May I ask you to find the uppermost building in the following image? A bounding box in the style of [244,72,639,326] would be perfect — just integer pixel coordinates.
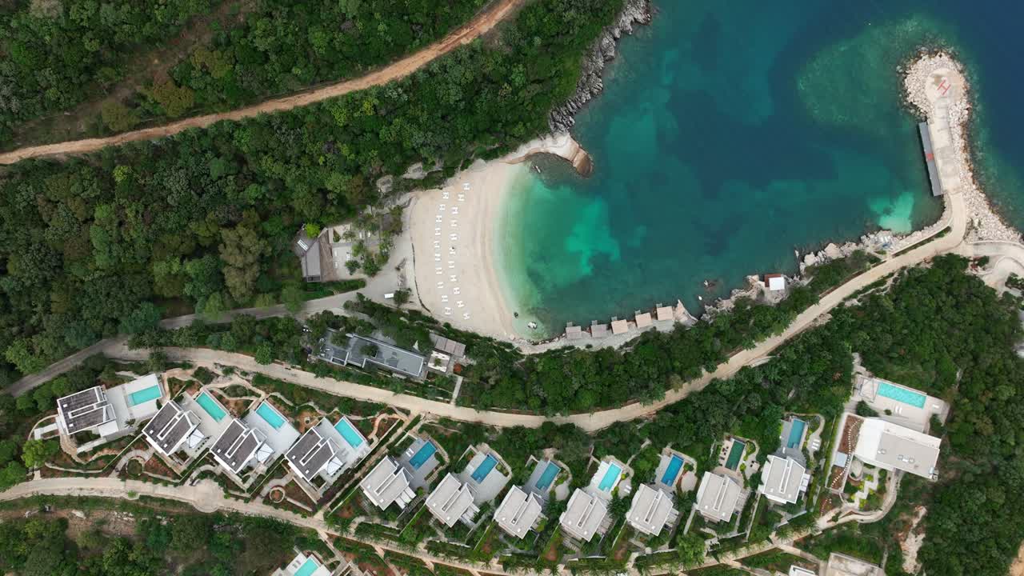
[294,225,338,280]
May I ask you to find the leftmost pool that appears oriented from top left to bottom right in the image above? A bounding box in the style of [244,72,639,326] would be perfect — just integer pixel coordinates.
[193,390,227,423]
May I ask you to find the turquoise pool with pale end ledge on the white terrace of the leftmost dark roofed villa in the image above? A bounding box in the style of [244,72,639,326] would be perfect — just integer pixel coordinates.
[126,384,162,408]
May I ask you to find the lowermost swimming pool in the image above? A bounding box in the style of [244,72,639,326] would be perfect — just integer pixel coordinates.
[292,556,320,576]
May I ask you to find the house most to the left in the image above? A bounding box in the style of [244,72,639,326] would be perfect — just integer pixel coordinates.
[56,386,124,435]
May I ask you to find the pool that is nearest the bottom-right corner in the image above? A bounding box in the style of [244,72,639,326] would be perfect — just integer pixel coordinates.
[877,381,928,410]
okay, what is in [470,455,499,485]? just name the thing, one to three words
swimming pool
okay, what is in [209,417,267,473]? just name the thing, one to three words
house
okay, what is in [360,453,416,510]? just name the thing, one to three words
house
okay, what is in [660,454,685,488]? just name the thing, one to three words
swimming pool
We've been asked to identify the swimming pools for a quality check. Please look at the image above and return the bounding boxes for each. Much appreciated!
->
[126,384,162,408]
[597,462,623,494]
[786,418,807,449]
[255,401,285,431]
[408,440,437,472]
[470,455,499,485]
[292,556,320,576]
[660,454,685,488]
[193,390,227,423]
[534,461,561,494]
[877,381,928,410]
[333,418,363,449]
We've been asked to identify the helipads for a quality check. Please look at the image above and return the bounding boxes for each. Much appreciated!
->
[924,67,965,106]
